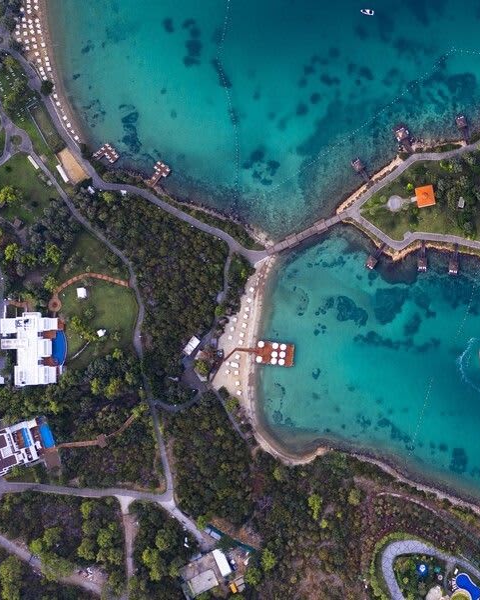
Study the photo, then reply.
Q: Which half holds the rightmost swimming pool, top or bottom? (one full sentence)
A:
Seen from above, the rightmost swimming pool lies in the bottom half of the view.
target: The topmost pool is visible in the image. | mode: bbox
[52,329,66,364]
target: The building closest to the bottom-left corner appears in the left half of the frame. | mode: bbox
[0,415,60,471]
